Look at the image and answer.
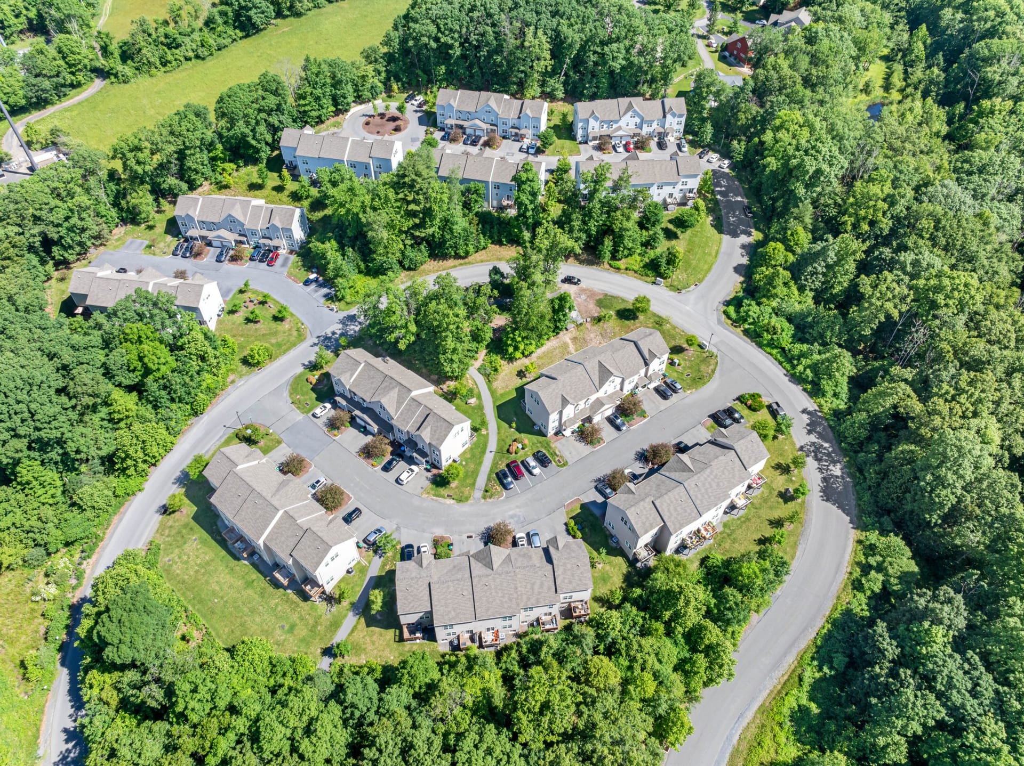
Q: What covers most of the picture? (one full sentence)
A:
What you mostly see from above here is trees.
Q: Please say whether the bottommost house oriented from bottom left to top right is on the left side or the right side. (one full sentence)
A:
It is on the right.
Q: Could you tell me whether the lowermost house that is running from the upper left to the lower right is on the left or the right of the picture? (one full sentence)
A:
The lowermost house that is running from the upper left to the lower right appears in the left half of the scene.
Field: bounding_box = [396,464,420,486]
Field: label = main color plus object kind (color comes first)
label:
white car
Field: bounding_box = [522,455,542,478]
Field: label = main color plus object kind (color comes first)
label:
white car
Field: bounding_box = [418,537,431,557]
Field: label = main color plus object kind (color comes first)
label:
white vehicle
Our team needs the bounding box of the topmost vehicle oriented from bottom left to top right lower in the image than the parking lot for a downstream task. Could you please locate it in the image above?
[310,401,334,420]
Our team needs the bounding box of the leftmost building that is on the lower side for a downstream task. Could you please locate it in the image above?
[202,442,359,606]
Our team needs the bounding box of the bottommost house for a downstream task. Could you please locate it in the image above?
[395,535,594,654]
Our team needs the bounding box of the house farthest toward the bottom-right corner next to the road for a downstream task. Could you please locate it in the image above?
[606,422,775,571]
